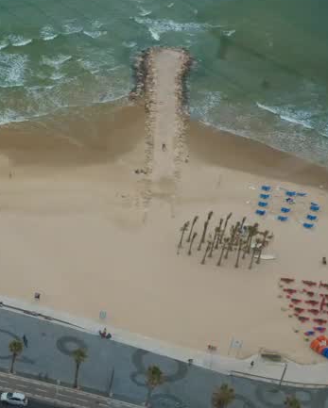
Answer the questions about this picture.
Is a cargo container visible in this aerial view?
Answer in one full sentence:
No, the scene contains no cargo container.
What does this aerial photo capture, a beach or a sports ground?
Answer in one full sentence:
The area seen from above is a beach.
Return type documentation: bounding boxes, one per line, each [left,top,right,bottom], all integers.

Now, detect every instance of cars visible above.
[0,391,28,408]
